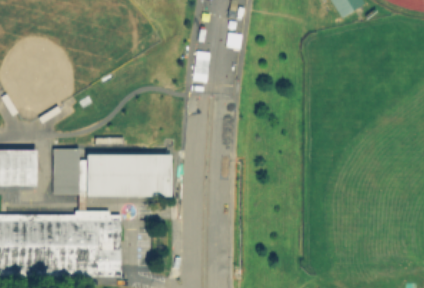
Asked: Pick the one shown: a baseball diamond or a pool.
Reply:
baseball diamond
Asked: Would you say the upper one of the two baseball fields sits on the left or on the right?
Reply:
left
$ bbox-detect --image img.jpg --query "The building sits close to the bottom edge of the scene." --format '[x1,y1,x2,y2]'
[0,210,120,276]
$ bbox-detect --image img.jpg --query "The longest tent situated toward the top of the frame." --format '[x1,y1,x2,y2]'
[193,50,210,83]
